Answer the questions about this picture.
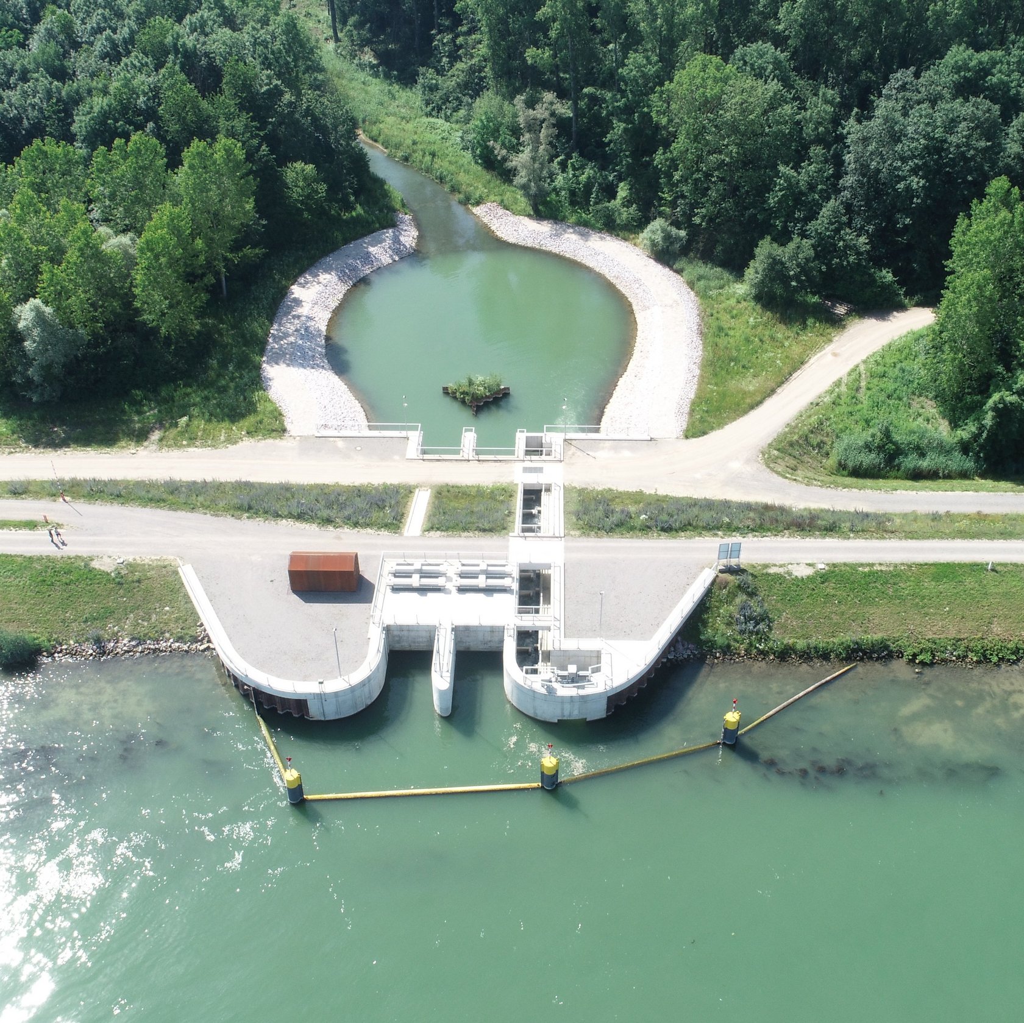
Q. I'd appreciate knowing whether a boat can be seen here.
No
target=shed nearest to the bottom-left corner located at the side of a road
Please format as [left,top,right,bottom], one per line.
[288,551,359,591]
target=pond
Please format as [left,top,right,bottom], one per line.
[326,77,631,454]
